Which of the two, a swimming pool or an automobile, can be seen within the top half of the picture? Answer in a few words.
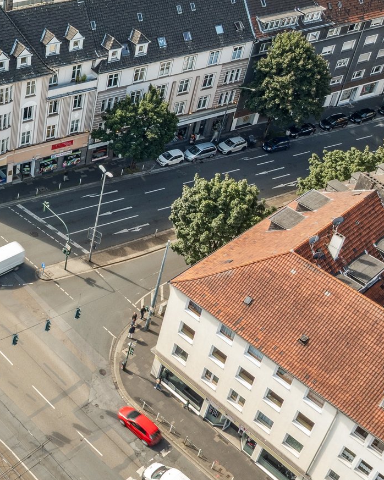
automobile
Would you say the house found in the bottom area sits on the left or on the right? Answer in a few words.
right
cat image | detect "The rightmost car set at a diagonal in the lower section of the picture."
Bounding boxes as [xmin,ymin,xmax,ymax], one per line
[109,404,171,455]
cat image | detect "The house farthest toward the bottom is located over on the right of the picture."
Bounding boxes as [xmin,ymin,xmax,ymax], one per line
[148,180,384,480]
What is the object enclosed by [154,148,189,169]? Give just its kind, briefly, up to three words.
car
